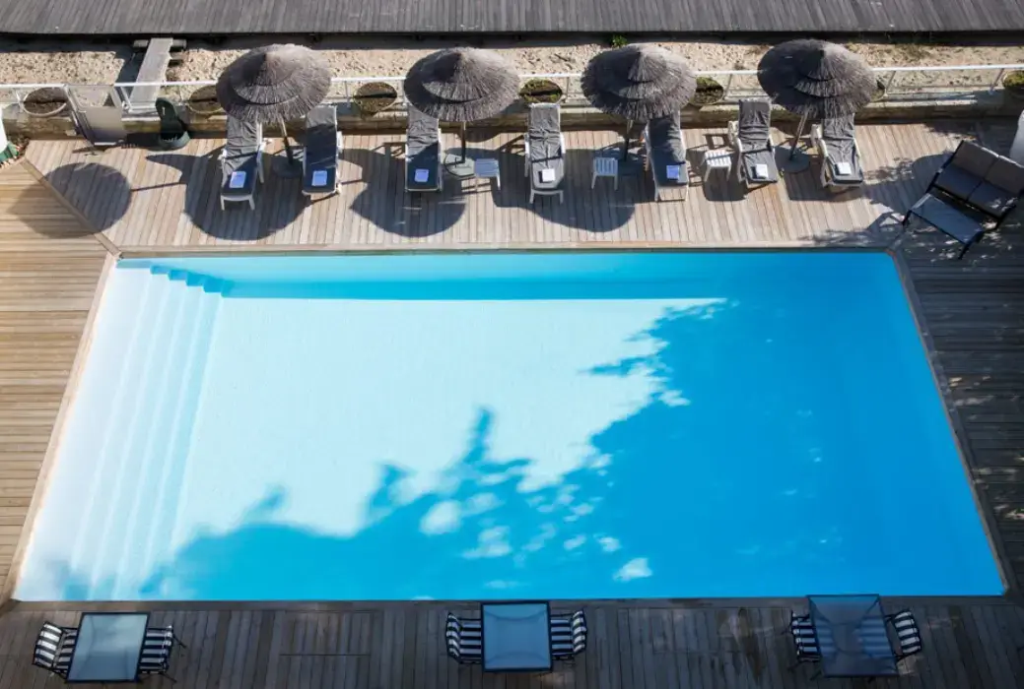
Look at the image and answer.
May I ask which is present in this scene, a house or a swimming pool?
swimming pool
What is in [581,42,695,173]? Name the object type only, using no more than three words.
umbrella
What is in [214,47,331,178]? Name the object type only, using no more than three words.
umbrella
